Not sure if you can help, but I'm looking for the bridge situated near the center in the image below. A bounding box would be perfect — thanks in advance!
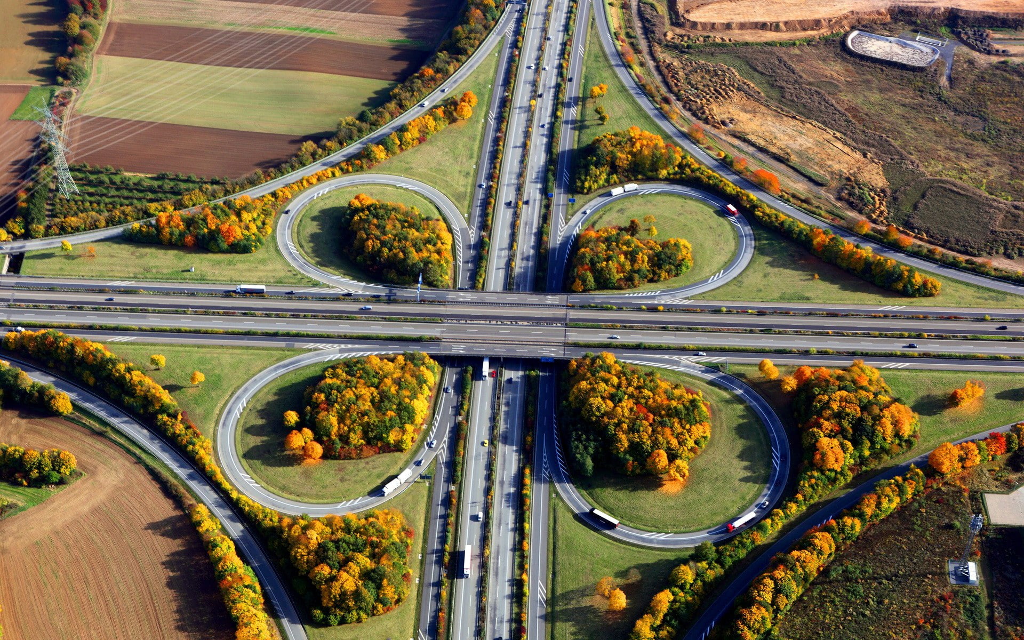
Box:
[437,287,571,364]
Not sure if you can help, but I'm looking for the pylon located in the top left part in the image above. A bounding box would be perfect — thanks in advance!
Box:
[36,98,81,196]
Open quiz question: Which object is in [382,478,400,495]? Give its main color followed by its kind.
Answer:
white vehicle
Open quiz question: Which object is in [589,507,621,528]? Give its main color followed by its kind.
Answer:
white truck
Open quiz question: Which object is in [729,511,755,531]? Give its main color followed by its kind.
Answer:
white vehicle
